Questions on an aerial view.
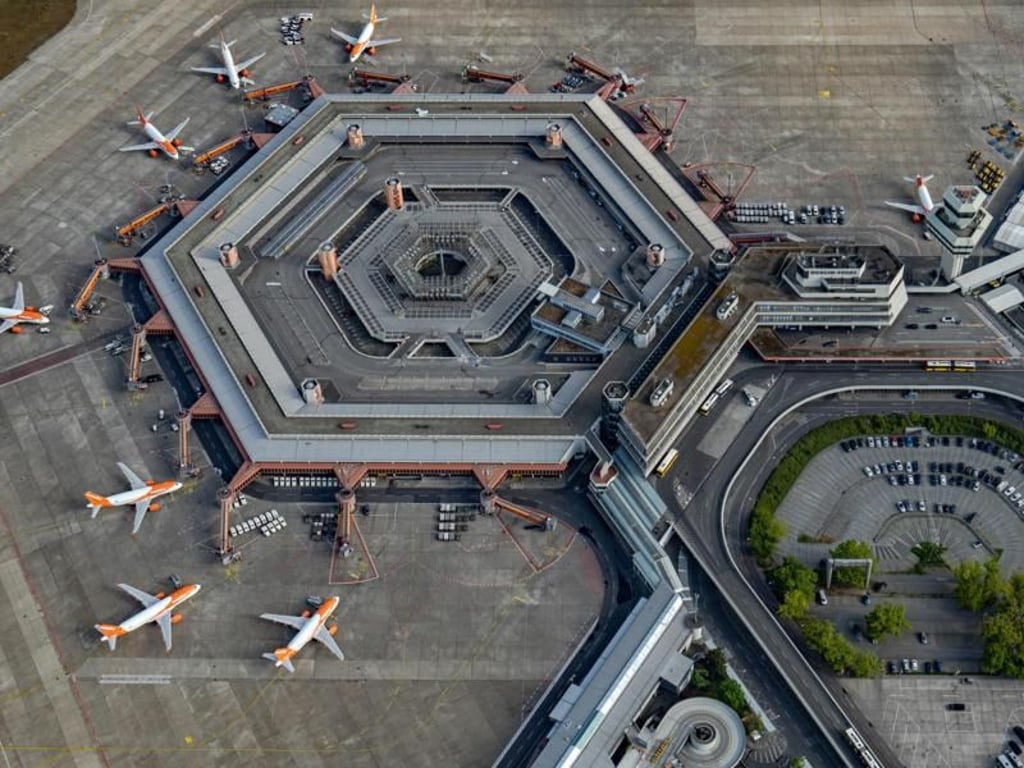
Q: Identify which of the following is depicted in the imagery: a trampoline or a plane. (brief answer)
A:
plane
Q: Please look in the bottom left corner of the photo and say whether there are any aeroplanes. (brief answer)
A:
Yes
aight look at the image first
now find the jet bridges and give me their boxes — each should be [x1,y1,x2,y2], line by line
[480,487,557,532]
[217,486,236,564]
[71,240,114,319]
[464,69,524,88]
[192,128,256,170]
[352,60,412,91]
[698,168,736,218]
[640,103,673,150]
[567,54,623,95]
[176,390,195,471]
[338,486,356,553]
[114,195,180,242]
[129,306,150,389]
[246,74,314,108]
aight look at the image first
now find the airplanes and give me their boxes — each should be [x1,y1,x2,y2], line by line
[192,33,262,88]
[0,282,48,333]
[82,459,182,530]
[260,599,342,671]
[121,105,188,158]
[885,170,937,227]
[101,584,200,651]
[332,4,400,61]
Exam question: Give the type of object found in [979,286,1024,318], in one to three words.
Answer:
shed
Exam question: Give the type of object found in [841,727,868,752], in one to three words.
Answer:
bus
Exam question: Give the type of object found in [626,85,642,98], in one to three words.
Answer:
vehicle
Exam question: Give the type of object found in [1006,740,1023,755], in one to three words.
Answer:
car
